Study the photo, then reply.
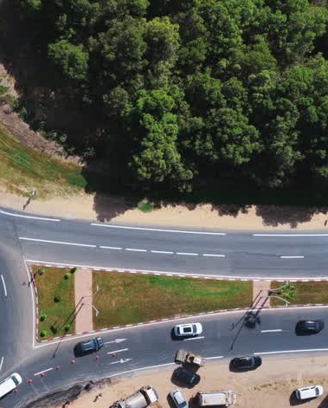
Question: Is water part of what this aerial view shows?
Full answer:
No, the picture contains no water.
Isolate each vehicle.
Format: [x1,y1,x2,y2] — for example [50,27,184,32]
[293,384,323,400]
[229,356,260,371]
[168,389,187,408]
[170,367,200,383]
[199,389,236,406]
[296,320,323,332]
[75,337,104,355]
[111,385,161,408]
[172,350,205,366]
[172,323,201,338]
[0,372,22,398]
